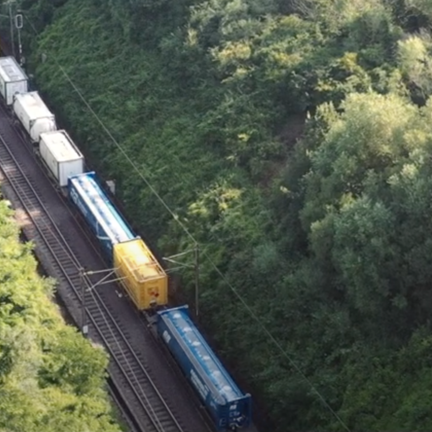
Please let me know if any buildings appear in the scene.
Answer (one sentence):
No, I can't see a single building in this photo.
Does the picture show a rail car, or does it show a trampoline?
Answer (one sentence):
I can see a rail car in this picture.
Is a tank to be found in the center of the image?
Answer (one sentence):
No, I can find no tank in the center of the image.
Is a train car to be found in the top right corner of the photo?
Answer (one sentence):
No, no train car appears in the top right corner of the photo.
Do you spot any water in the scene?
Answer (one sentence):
No, there's no water in this view.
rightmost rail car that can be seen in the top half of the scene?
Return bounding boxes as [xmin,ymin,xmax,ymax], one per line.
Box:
[13,112,69,193]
